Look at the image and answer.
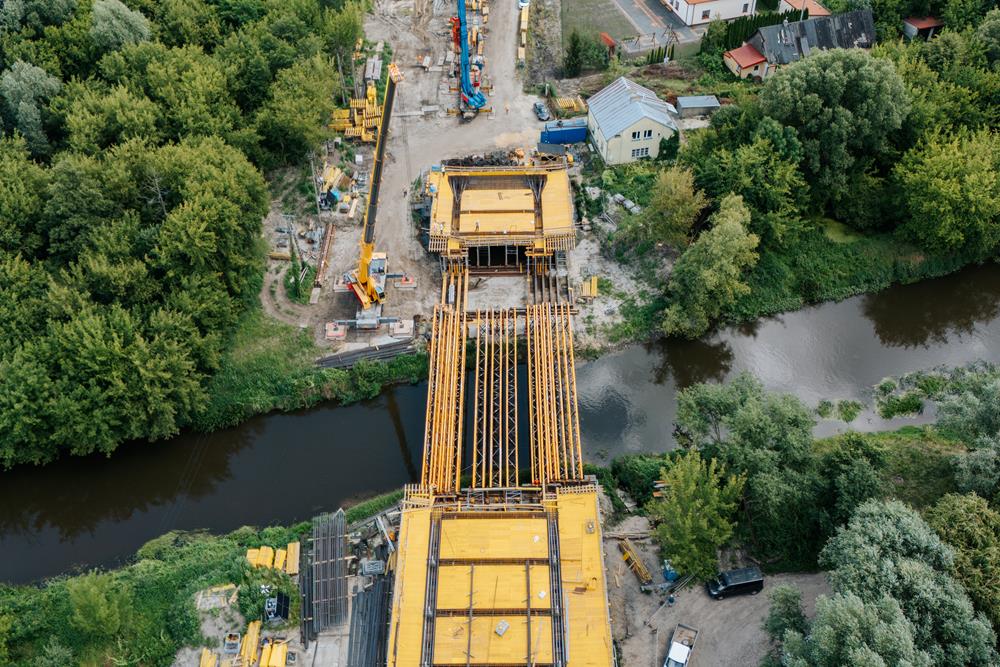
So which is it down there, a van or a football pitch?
van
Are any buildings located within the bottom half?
No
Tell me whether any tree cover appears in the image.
Yes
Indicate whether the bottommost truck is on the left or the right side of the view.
right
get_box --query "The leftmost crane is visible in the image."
[322,58,417,338]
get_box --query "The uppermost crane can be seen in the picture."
[438,0,502,118]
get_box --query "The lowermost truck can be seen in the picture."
[661,617,702,667]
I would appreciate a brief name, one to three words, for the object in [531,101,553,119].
car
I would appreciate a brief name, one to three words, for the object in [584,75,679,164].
house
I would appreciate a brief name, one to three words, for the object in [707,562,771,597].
van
